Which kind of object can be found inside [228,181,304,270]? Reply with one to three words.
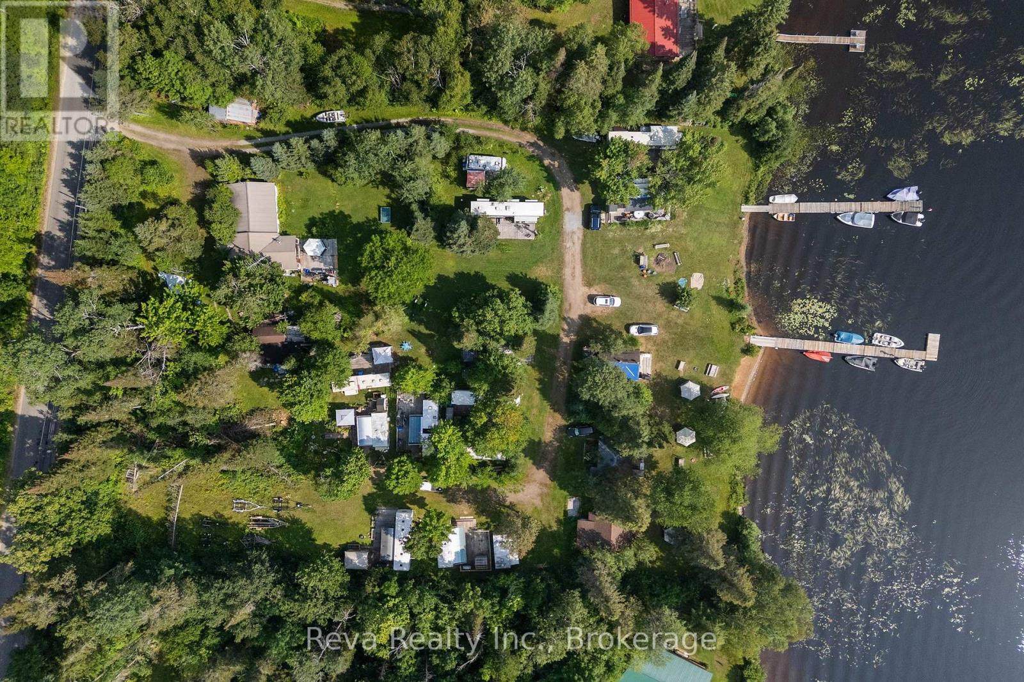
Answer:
house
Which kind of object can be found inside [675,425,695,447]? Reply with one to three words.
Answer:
gazebo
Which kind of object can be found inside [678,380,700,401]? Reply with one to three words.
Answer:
gazebo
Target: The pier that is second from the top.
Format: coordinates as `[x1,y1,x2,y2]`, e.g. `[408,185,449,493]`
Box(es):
[742,201,923,214]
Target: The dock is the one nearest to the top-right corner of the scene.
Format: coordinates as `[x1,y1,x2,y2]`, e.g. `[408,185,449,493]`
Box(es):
[778,29,866,52]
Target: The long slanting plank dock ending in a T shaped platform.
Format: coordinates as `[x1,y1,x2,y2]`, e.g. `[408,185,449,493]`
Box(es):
[749,334,939,362]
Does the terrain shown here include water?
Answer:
Yes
